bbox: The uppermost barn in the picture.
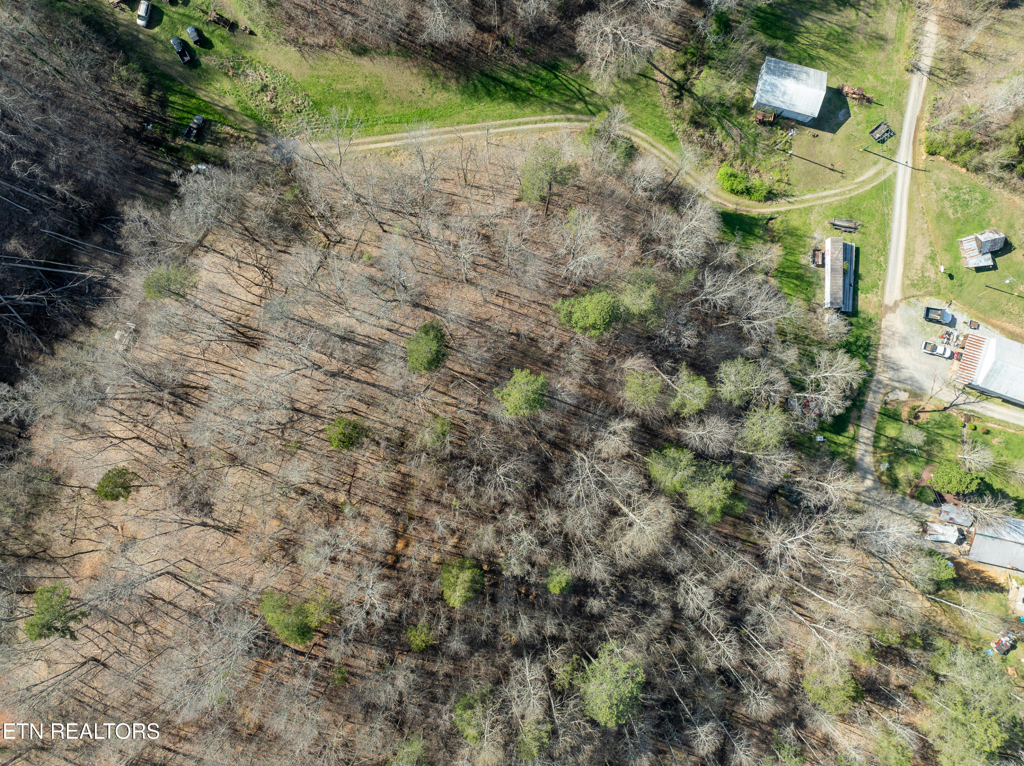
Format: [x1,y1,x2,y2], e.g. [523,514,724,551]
[752,57,828,122]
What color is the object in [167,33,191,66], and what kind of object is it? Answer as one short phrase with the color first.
black truck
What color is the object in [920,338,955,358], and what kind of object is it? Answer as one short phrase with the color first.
white vehicle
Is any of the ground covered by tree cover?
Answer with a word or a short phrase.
Yes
